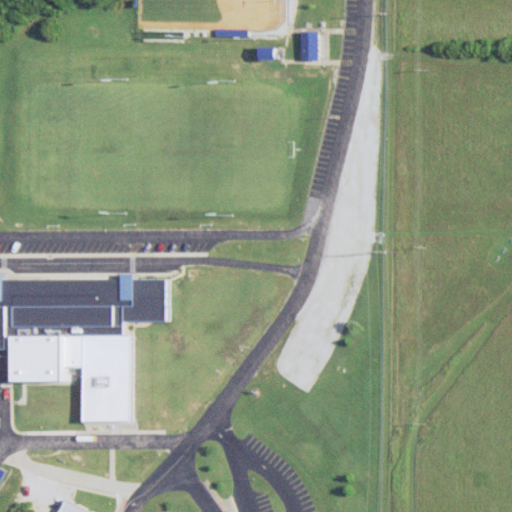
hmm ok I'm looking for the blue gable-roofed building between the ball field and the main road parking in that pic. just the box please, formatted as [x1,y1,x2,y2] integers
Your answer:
[301,32,322,61]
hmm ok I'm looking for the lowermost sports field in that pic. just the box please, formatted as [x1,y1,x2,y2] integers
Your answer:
[31,82,290,213]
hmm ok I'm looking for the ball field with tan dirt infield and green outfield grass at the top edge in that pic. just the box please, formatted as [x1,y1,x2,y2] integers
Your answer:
[138,0,298,38]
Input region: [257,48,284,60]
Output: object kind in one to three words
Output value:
building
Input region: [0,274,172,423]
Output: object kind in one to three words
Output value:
building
